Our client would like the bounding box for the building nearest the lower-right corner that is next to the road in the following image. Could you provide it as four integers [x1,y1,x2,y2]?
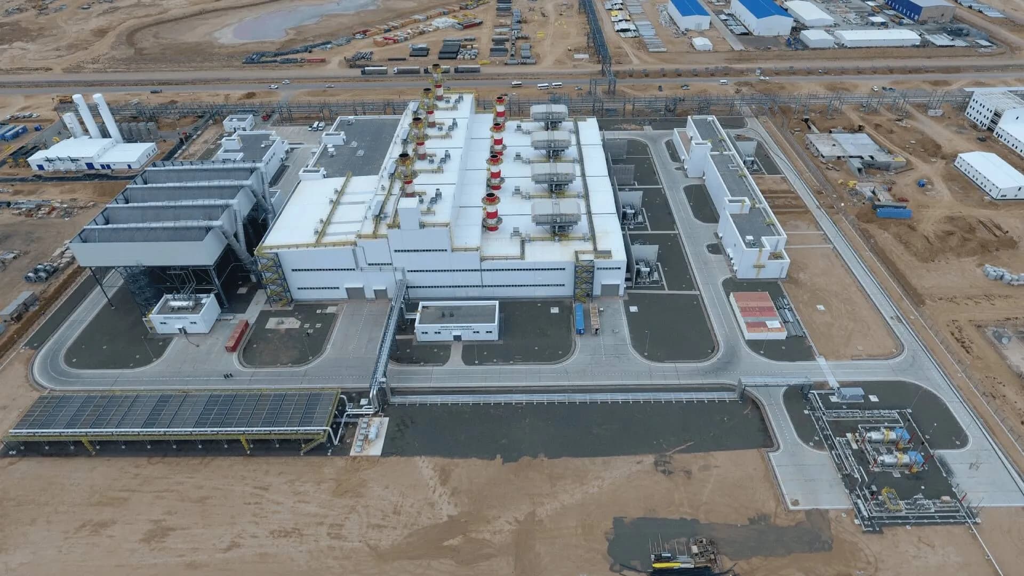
[833,384,868,402]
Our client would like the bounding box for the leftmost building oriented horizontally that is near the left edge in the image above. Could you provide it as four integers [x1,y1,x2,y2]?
[23,132,162,170]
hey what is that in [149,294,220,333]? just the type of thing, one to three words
building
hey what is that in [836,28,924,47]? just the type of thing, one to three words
building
